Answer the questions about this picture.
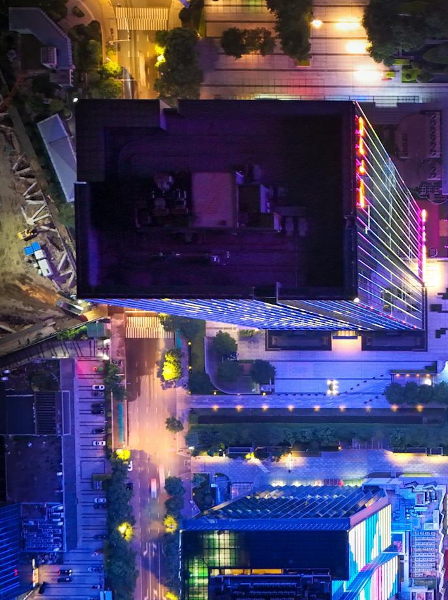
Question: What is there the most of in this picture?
buildings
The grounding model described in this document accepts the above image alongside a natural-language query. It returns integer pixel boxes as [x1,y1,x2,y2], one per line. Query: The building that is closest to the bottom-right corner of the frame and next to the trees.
[362,472,448,600]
